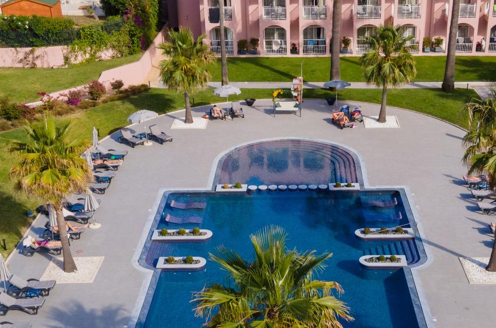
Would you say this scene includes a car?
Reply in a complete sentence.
No, I can't see a single car in this photo.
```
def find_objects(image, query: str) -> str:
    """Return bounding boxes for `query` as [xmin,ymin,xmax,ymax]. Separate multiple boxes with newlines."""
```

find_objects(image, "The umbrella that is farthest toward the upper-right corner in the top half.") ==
[321,80,352,94]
